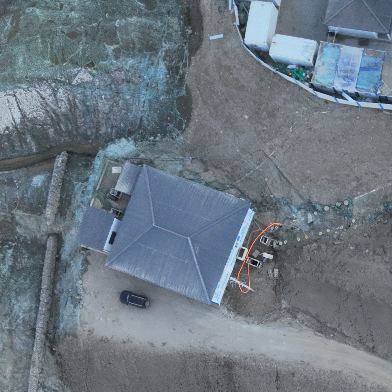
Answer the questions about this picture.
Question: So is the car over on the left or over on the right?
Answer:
left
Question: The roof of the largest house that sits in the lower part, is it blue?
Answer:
Yes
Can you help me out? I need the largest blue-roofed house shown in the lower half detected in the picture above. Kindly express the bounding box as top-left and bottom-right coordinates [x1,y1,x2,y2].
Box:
[106,165,251,307]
